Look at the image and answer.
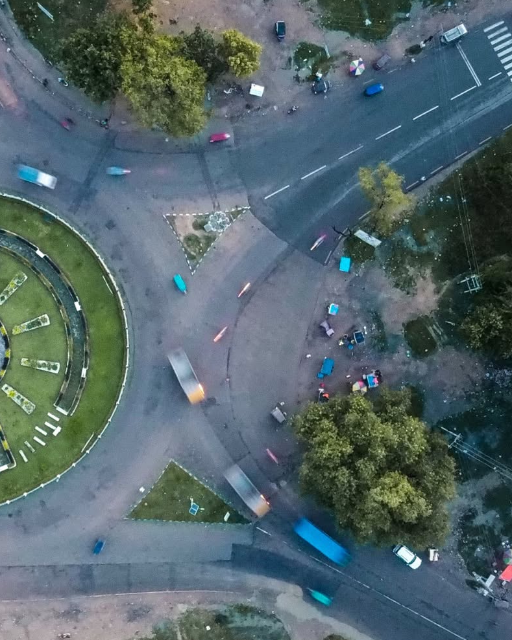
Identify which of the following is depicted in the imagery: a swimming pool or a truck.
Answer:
truck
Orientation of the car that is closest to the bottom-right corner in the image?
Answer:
on a diagonal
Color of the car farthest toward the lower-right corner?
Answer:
white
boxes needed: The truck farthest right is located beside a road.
[433,22,469,47]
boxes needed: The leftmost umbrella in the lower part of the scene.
[351,378,367,394]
